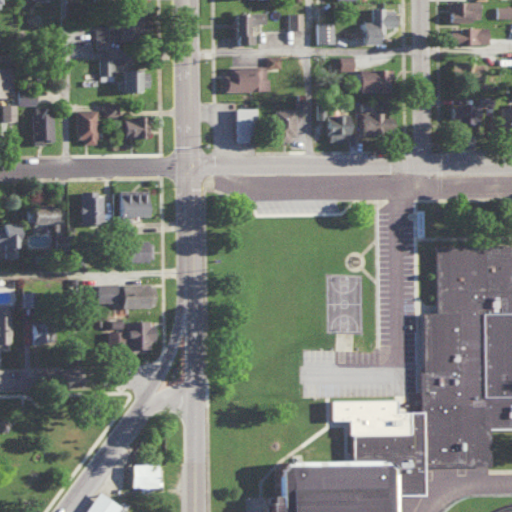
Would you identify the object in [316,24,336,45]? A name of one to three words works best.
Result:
building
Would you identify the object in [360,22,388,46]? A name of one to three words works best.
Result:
house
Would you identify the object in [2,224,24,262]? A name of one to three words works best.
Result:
house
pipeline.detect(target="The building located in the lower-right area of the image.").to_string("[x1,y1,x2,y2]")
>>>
[276,246,512,512]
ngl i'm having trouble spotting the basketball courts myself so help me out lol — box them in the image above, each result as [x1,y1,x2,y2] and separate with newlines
[326,275,362,334]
